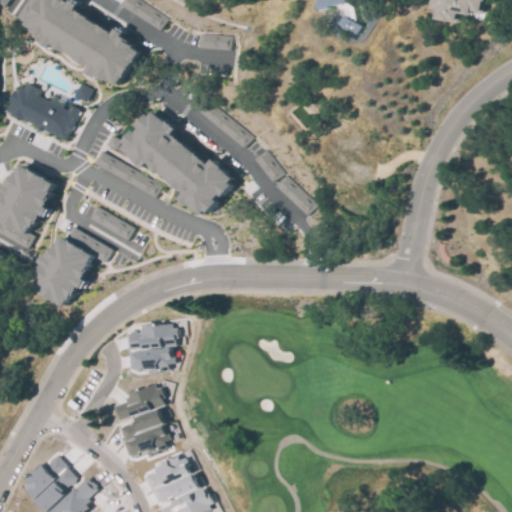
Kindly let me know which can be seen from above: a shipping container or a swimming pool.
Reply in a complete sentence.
Looking from above, you can make out a swimming pool.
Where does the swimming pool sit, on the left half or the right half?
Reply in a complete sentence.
You can find the swimming pool on the left side of the picture.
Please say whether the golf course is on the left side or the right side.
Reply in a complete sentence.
It is on the right.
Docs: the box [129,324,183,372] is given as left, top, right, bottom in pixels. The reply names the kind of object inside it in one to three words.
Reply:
house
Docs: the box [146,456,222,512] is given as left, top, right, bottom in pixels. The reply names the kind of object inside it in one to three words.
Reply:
house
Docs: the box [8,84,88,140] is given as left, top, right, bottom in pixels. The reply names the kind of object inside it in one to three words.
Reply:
building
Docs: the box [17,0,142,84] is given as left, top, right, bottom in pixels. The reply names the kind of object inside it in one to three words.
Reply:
building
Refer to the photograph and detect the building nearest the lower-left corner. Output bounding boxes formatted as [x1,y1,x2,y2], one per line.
[26,458,102,512]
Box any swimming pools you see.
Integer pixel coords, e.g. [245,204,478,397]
[19,58,82,105]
